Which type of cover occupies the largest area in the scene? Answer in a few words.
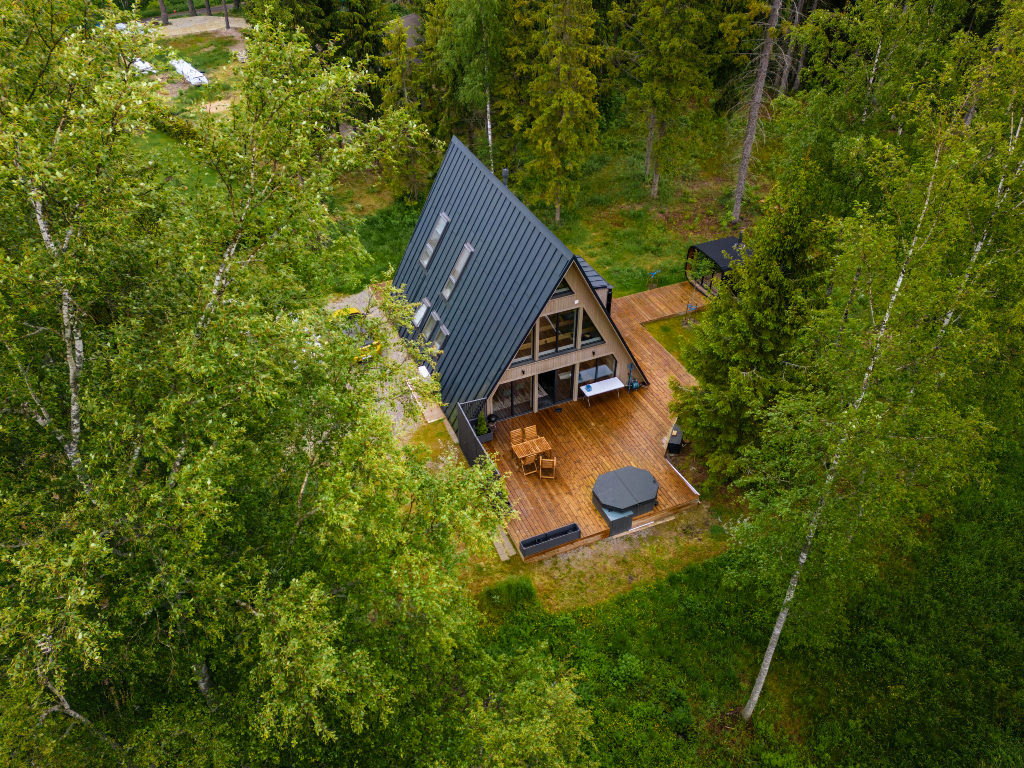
trees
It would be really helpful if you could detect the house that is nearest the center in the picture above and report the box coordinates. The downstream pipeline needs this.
[383,134,651,455]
